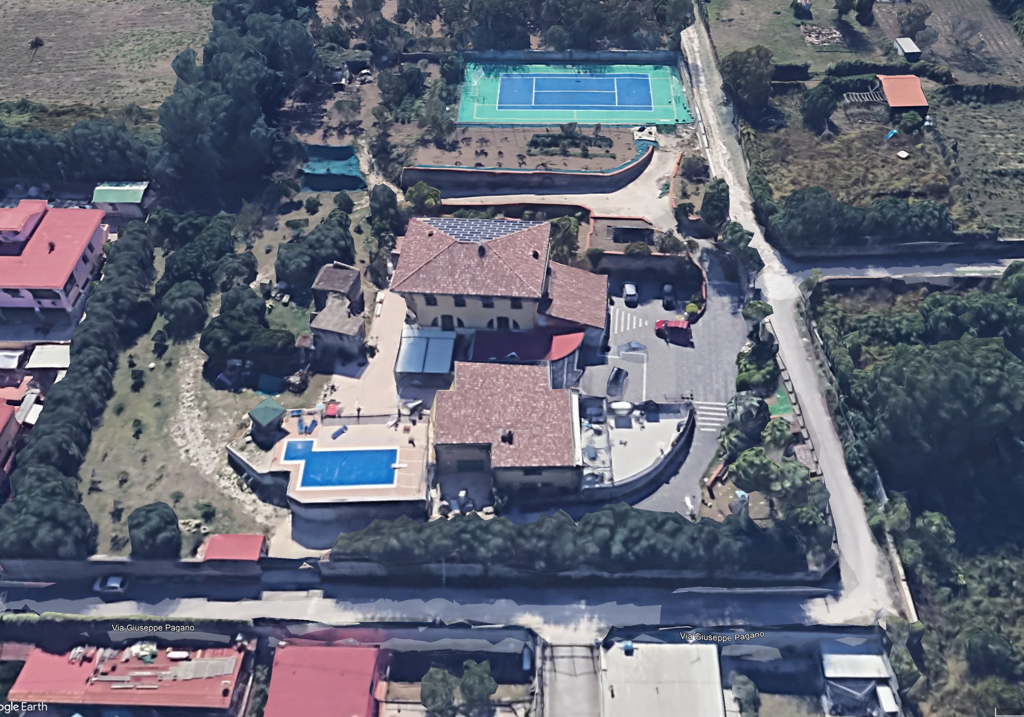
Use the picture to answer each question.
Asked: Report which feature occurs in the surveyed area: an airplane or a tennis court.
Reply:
tennis court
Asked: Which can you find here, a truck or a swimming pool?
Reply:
swimming pool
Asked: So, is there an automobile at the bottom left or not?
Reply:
Yes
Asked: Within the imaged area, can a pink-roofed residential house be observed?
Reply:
Yes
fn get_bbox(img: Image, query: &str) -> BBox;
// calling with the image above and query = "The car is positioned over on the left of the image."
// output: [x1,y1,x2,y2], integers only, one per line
[91,574,133,595]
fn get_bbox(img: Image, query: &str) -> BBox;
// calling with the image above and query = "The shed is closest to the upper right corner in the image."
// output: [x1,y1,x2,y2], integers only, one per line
[894,38,921,62]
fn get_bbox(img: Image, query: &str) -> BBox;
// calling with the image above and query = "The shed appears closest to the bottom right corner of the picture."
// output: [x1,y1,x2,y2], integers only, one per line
[866,686,898,717]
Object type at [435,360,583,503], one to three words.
house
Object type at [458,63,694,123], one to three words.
tennis court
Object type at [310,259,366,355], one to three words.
shed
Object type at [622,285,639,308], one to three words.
car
